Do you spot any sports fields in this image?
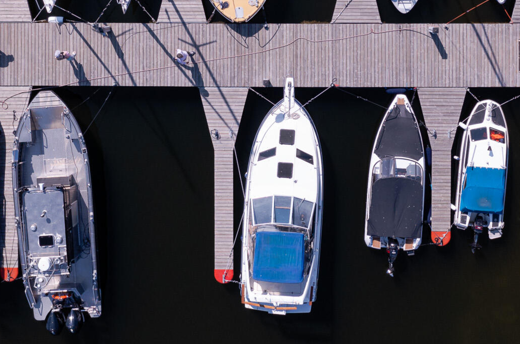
No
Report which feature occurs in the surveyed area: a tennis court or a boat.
boat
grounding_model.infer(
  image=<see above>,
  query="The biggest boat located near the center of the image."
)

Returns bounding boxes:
[238,74,325,314]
